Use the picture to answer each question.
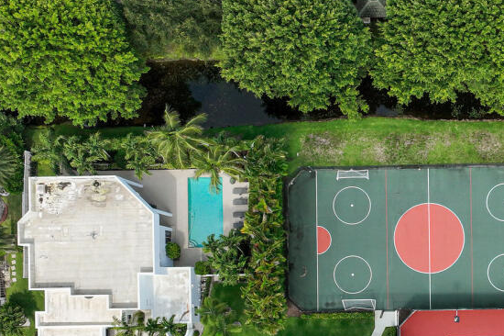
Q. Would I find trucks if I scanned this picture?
No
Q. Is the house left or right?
left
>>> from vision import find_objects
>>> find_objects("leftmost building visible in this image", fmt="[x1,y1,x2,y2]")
[18,175,202,336]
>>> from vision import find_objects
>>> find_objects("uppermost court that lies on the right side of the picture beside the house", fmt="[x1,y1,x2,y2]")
[288,165,504,313]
